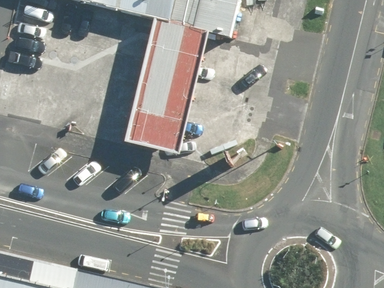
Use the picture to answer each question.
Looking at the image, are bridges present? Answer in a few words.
No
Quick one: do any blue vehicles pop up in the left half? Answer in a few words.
Yes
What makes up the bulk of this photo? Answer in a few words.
paved ground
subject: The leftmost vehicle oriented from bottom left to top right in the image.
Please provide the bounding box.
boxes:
[38,148,67,174]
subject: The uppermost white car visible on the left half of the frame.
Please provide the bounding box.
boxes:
[22,4,54,22]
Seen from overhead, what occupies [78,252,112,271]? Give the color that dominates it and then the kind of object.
white vehicle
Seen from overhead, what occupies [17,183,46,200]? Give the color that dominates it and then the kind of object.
blue car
